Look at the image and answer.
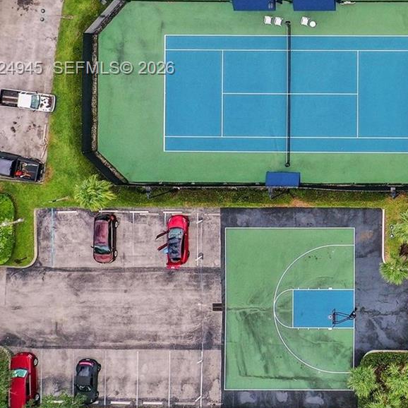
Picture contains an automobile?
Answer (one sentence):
Yes, an automobile appears in the view.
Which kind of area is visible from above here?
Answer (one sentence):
The area seen from above is a sports ground.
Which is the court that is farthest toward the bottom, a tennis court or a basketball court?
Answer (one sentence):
The court that is farthest toward the bottom appears to be a basketball court.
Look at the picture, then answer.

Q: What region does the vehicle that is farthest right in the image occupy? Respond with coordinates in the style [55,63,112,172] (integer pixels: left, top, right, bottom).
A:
[153,215,190,273]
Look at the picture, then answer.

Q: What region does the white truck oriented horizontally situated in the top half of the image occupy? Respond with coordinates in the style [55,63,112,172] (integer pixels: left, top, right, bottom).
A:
[0,89,54,116]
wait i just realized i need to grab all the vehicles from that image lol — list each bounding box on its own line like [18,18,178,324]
[0,153,44,184]
[0,89,54,116]
[87,214,116,264]
[72,358,98,404]
[8,357,36,408]
[153,215,190,273]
